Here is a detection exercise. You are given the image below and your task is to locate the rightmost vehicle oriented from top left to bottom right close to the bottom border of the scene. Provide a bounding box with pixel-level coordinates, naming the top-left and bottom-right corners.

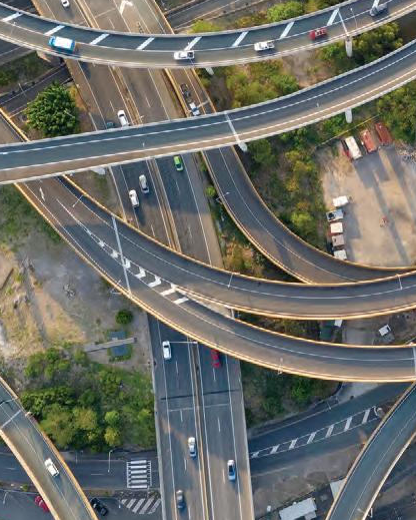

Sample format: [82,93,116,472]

[90,496,109,517]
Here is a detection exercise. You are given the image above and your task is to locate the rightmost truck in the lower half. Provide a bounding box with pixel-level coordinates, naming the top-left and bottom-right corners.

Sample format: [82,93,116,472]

[371,321,397,343]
